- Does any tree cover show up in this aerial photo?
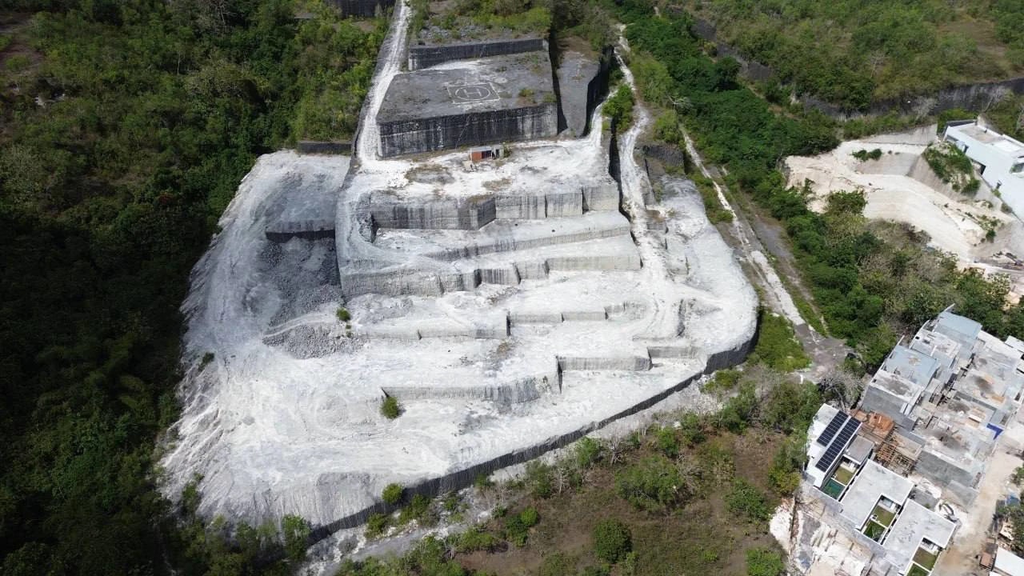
Yes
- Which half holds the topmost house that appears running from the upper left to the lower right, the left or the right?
right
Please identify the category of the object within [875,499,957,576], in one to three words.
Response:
house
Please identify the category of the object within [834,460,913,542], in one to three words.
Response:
house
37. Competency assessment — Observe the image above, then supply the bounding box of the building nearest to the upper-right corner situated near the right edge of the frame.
[938,120,1024,226]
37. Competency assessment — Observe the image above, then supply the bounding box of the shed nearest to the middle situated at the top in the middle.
[465,142,503,160]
